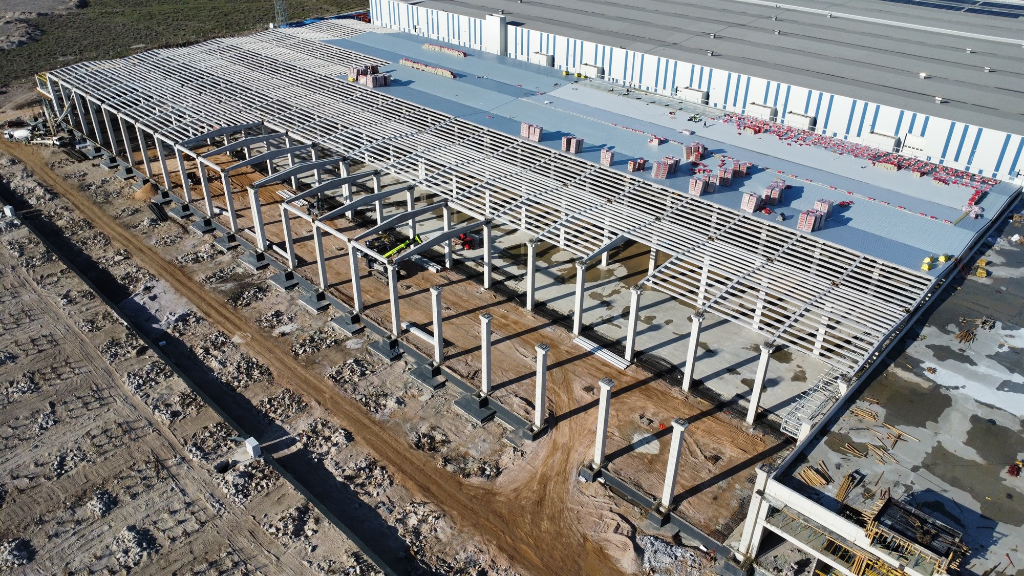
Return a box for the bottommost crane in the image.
[369,229,430,285]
